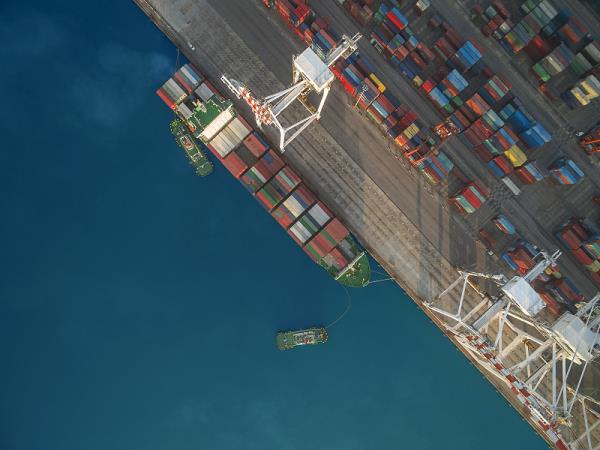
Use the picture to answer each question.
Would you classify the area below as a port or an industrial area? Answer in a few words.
port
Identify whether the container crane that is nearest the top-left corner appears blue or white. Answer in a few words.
white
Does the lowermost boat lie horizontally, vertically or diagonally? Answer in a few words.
horizontally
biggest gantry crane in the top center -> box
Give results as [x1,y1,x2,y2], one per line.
[219,23,366,156]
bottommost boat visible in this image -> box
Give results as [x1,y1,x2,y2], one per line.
[275,329,329,351]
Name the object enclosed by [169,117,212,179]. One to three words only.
boat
